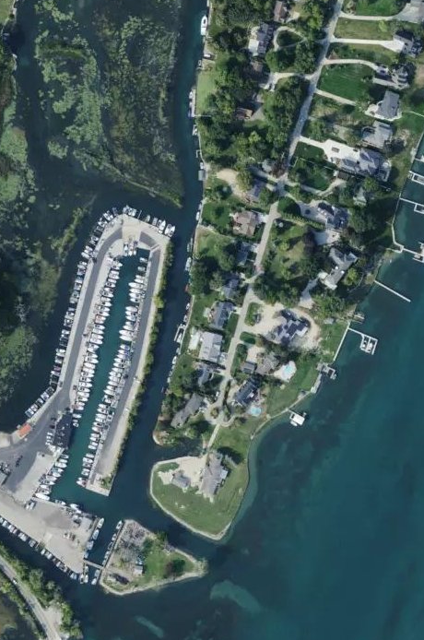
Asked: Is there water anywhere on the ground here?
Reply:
Yes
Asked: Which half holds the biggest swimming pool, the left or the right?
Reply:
right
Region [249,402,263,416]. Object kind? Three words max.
swimming pool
